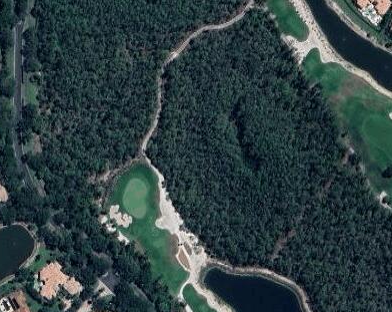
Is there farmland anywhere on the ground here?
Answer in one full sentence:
No, the picture contains no farmland.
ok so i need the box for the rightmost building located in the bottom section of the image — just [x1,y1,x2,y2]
[37,259,84,302]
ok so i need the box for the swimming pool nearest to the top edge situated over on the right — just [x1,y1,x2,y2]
[364,4,382,25]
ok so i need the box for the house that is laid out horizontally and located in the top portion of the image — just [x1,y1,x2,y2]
[353,0,392,17]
